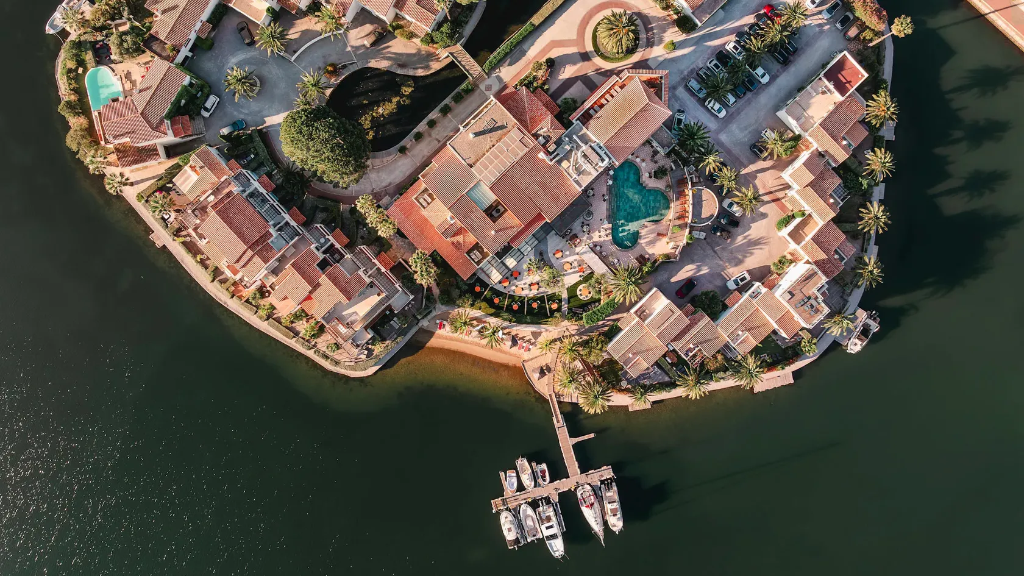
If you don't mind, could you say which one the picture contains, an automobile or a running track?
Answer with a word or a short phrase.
automobile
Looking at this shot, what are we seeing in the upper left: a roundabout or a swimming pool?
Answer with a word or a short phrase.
swimming pool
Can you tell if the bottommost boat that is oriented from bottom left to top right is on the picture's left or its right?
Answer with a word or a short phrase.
right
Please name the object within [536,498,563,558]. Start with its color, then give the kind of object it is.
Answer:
white boat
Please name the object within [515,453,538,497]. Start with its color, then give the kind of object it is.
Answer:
white boat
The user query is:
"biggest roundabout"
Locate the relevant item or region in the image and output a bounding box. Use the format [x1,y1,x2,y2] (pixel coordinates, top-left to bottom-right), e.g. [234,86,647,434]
[577,1,655,78]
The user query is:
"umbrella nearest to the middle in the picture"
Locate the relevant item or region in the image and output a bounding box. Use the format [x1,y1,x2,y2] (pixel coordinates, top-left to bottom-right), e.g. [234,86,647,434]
[505,333,521,349]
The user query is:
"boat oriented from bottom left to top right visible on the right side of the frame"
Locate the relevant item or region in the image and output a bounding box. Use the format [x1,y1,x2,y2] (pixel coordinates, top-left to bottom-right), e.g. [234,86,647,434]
[846,309,881,352]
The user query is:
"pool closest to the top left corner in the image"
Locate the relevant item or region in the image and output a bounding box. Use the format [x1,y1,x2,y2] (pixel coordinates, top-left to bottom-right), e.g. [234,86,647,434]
[84,66,124,111]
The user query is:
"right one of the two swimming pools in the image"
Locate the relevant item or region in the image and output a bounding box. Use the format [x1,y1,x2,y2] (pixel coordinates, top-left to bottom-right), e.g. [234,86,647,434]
[609,159,672,252]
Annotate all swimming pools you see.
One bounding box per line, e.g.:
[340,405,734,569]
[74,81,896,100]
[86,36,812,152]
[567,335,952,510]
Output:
[84,66,124,111]
[609,159,672,252]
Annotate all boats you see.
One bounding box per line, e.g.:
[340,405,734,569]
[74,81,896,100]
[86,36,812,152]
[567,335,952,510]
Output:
[535,458,550,491]
[846,309,881,352]
[505,467,518,498]
[49,0,73,36]
[515,453,538,497]
[536,498,563,558]
[601,479,622,530]
[573,472,601,538]
[499,506,520,553]
[518,501,541,544]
